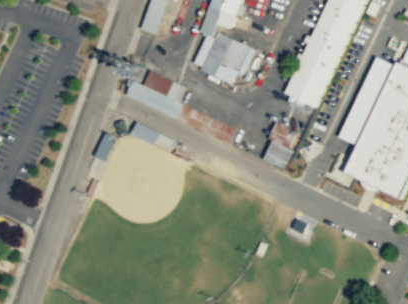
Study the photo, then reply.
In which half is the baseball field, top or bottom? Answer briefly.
bottom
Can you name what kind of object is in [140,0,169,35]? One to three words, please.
shed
